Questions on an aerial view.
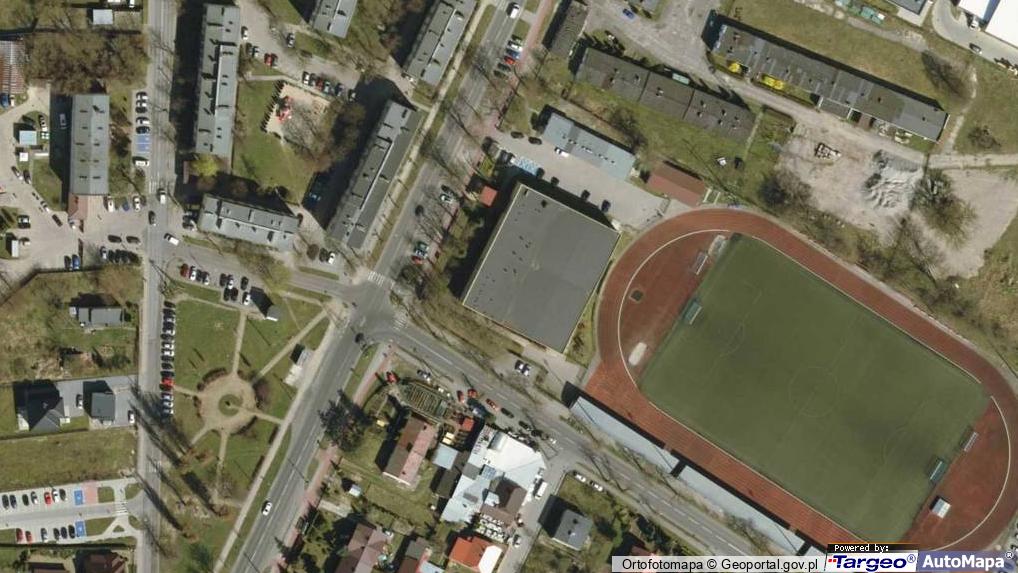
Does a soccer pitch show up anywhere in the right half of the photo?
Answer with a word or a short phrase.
Yes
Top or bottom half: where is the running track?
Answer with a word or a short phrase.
bottom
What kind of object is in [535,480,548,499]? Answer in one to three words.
vehicle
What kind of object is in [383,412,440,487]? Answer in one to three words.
house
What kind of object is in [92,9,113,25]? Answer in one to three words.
shed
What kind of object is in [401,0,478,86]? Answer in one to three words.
building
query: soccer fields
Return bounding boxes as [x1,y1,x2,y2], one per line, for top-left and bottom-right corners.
[640,236,989,546]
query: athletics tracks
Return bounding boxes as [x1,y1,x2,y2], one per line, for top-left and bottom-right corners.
[582,205,1018,573]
